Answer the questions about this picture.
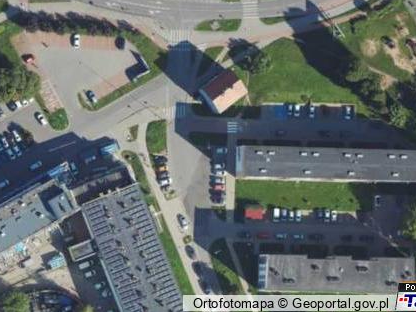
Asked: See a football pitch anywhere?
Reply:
No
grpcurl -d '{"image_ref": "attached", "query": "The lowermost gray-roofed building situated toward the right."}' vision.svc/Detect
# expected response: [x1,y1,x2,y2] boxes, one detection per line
[260,254,415,293]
